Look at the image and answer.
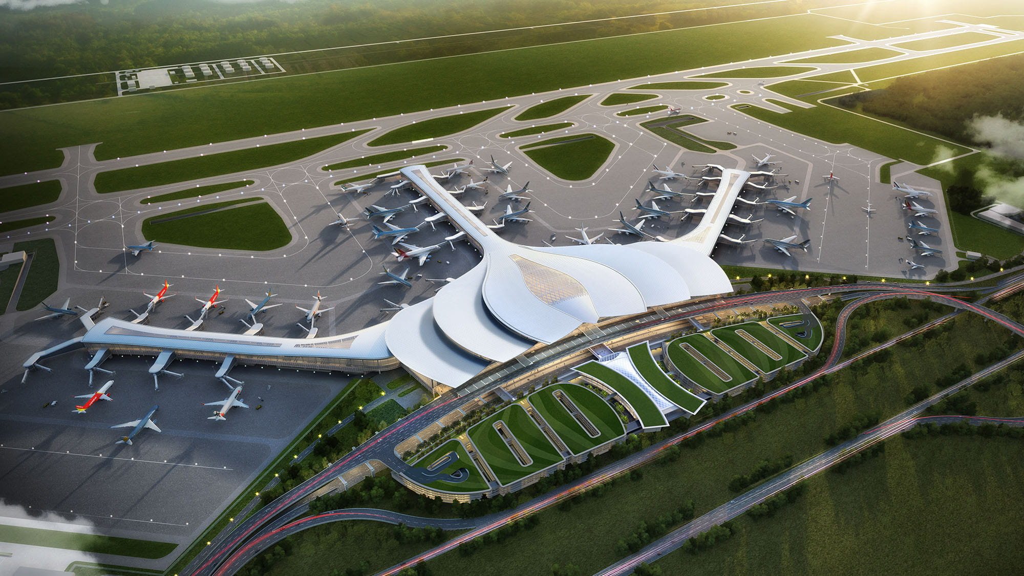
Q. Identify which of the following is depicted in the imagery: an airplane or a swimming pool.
airplane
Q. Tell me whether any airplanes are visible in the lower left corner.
Yes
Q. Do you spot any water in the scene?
No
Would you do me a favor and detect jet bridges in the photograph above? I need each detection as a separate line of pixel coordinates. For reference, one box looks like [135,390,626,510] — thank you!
[670,209,706,221]
[730,213,766,225]
[127,302,155,324]
[295,317,318,338]
[147,351,185,392]
[737,197,771,207]
[465,200,488,212]
[750,168,789,178]
[720,233,759,245]
[438,233,467,252]
[416,214,446,231]
[431,170,456,181]
[238,312,265,335]
[447,185,467,195]
[685,176,721,187]
[683,192,714,203]
[182,308,208,331]
[384,181,409,198]
[540,239,553,246]
[691,164,723,173]
[20,339,83,385]
[603,236,617,245]
[368,172,401,183]
[82,349,117,389]
[73,296,104,328]
[485,218,506,231]
[213,356,246,393]
[424,278,455,283]
[746,181,779,191]
[379,298,407,313]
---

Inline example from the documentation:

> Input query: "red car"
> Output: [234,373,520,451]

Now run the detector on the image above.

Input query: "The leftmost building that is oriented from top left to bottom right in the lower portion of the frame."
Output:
[463,437,498,492]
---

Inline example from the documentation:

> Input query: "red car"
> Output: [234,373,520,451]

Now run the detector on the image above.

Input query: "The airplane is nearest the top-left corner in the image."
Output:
[126,240,158,255]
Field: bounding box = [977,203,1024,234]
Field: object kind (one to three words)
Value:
hangar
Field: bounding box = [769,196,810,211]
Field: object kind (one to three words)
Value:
airplane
